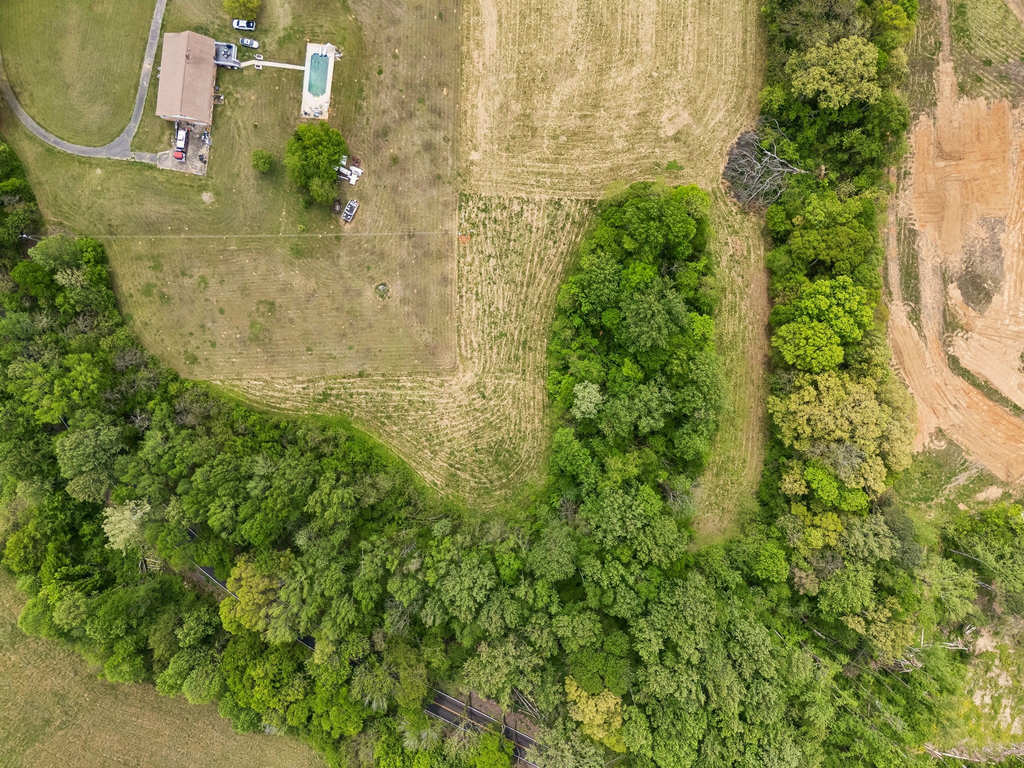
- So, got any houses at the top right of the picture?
No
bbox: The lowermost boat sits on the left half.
[341,200,359,222]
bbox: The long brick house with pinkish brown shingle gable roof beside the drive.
[156,32,217,125]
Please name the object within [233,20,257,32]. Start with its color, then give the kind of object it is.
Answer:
white vehicle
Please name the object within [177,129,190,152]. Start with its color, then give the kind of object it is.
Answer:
white vehicle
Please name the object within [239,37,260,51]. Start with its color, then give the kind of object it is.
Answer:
white car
